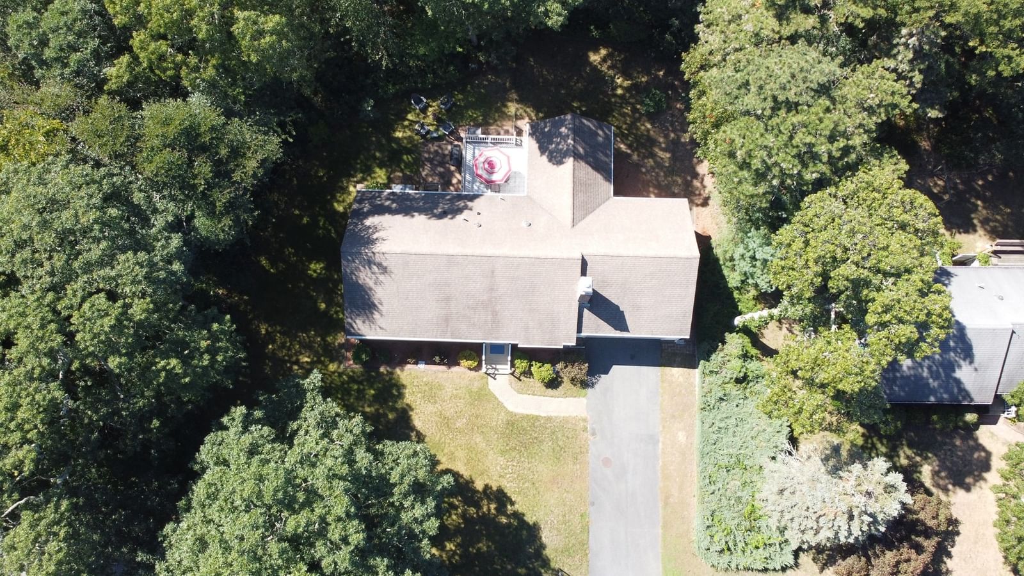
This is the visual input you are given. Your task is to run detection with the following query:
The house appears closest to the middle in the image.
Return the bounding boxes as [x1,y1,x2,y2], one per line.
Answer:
[341,114,700,374]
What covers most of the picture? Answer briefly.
trees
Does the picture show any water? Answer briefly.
No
